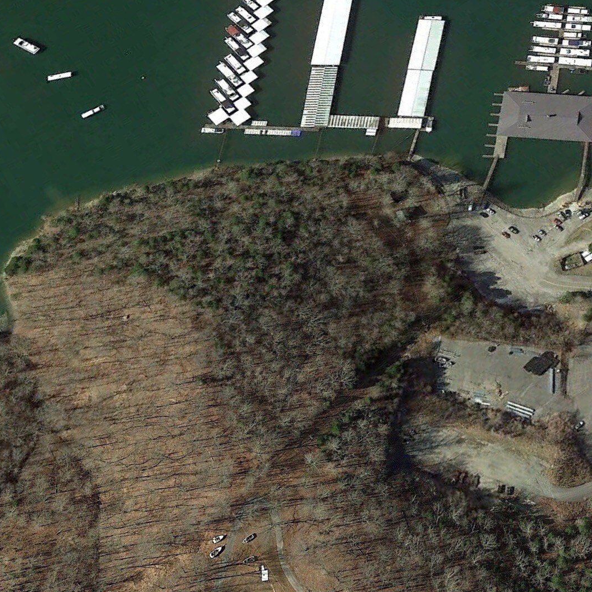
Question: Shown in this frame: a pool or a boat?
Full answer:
This aerial view contains a boat.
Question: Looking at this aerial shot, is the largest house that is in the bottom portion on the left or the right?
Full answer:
The largest house that is in the bottom portion sits on the right side.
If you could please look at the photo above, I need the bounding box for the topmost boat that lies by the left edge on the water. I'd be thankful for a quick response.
[14,37,41,56]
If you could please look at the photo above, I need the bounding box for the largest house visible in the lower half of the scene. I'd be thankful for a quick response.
[524,353,556,375]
